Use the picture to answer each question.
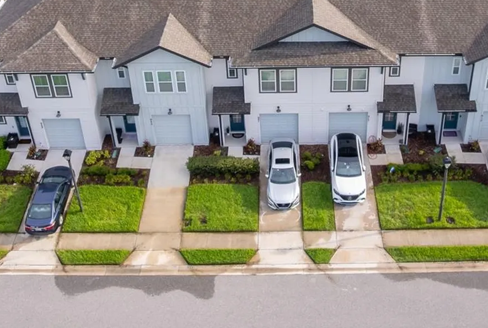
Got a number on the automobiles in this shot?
3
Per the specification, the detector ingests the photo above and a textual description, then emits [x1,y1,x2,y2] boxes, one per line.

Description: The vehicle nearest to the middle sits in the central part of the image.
[264,140,302,206]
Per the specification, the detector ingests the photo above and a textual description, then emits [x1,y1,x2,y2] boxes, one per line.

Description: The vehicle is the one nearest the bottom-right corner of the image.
[329,133,368,200]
